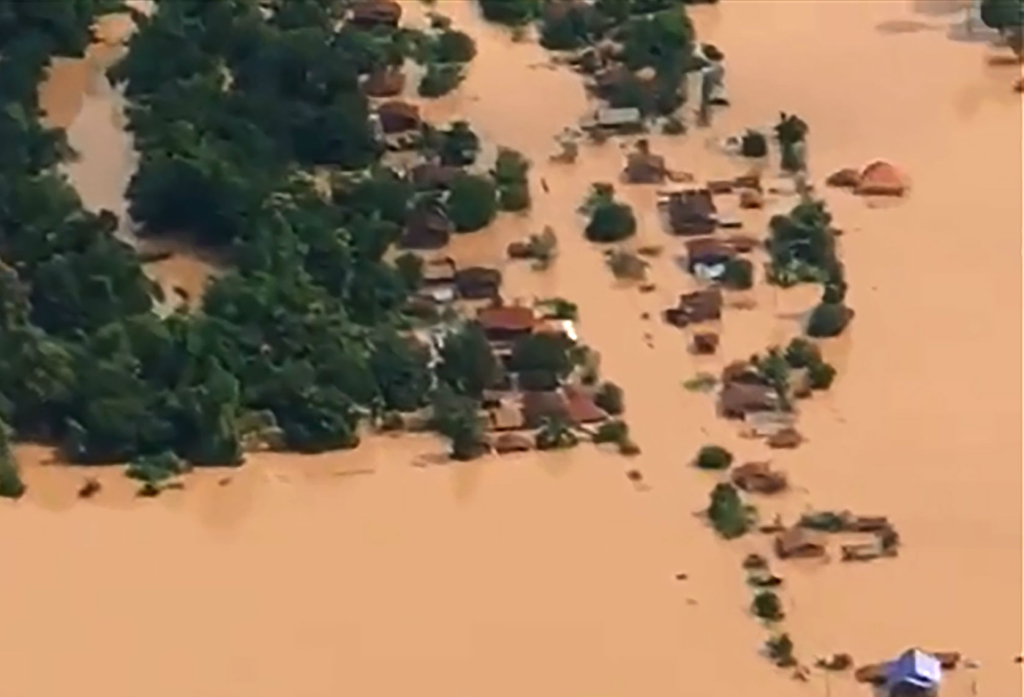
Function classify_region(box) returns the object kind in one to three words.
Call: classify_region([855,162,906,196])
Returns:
house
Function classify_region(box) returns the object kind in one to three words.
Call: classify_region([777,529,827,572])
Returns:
house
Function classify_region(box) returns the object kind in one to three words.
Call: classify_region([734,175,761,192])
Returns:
shed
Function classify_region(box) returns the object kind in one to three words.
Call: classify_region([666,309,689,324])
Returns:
shed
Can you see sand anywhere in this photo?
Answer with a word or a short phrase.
No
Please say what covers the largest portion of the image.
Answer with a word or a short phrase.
water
